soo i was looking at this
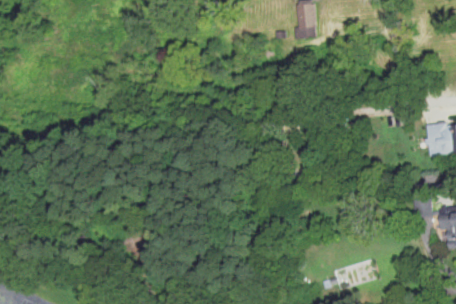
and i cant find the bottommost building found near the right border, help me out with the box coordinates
[439,206,456,248]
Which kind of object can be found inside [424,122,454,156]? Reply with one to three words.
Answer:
house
